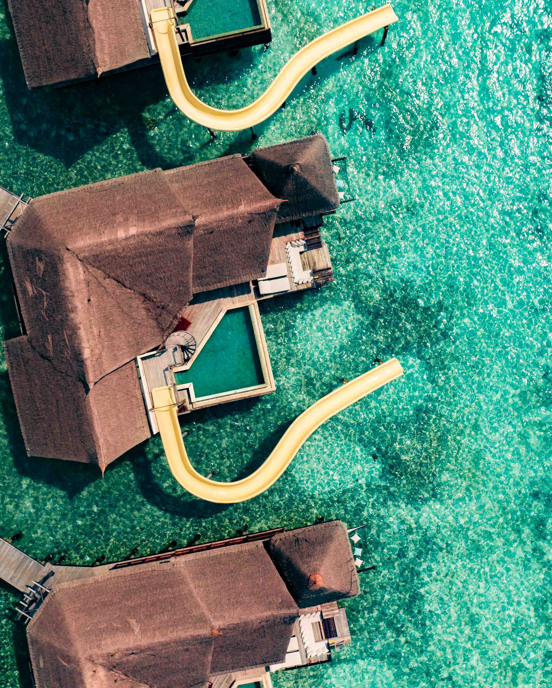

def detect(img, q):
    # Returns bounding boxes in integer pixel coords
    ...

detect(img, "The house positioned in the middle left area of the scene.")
[1,153,287,475]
